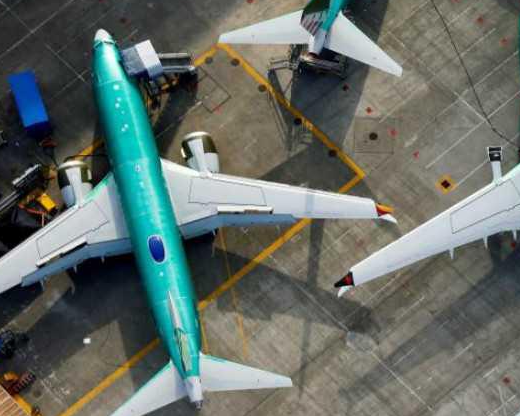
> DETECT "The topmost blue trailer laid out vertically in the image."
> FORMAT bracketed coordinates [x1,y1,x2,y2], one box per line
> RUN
[8,69,51,156]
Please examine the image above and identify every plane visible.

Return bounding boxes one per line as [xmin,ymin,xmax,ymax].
[335,143,520,301]
[0,28,398,416]
[218,0,402,78]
